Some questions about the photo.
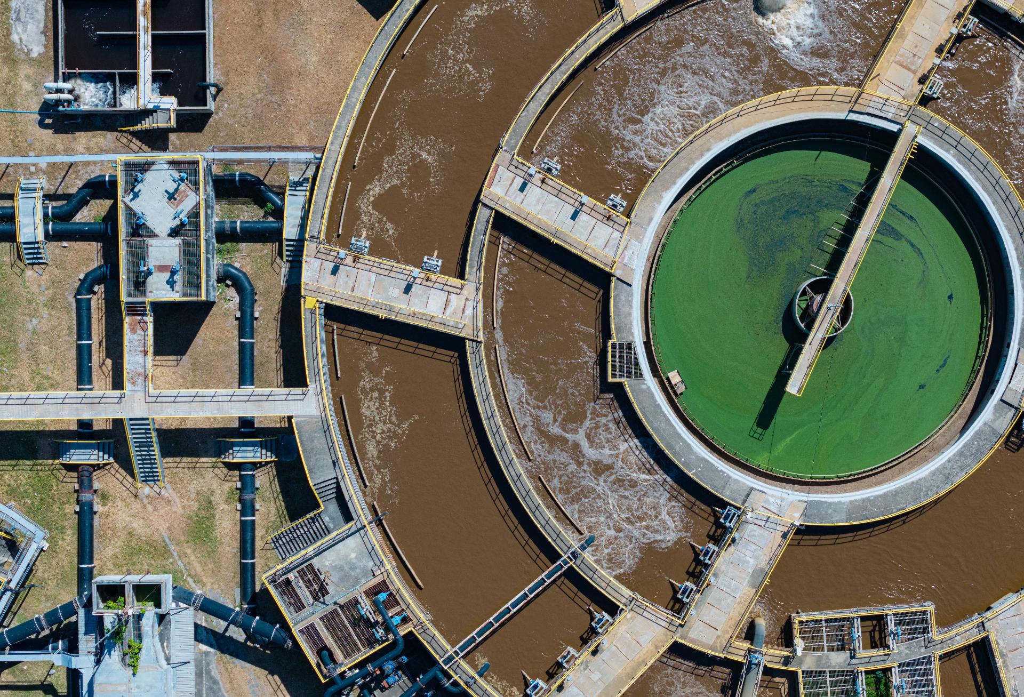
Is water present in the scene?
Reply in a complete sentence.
Yes, water shows up in the scene.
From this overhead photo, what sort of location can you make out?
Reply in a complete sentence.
It's an industrial area.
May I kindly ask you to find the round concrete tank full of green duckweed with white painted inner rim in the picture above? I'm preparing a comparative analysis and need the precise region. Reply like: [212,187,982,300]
[607,87,1024,526]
